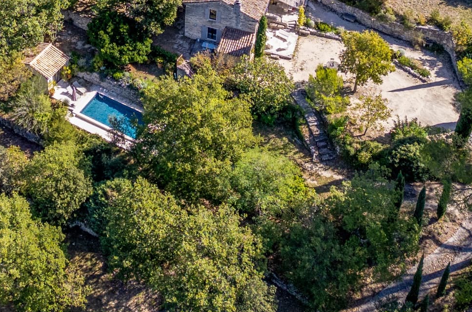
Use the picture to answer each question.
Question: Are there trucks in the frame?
No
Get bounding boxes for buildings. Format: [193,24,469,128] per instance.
[182,0,316,71]
[17,44,71,97]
